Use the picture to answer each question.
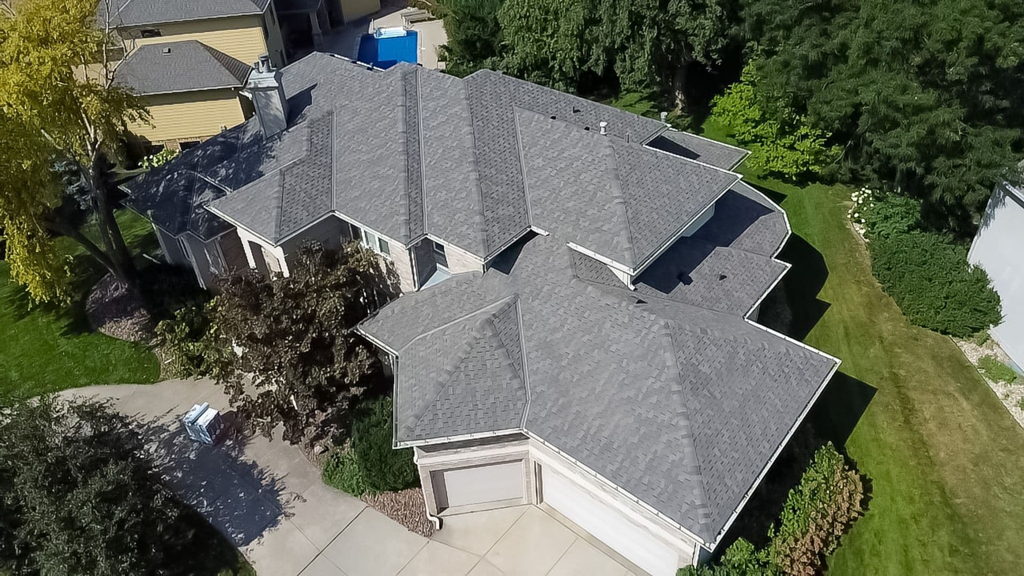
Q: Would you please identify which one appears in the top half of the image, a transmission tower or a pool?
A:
pool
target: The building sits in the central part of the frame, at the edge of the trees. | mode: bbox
[120,49,840,576]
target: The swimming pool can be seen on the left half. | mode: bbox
[348,26,425,64]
